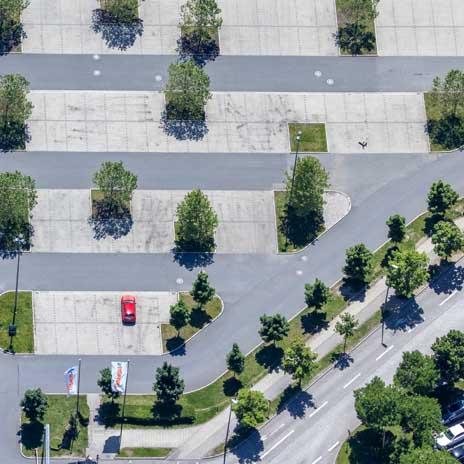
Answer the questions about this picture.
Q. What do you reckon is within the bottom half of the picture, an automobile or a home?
automobile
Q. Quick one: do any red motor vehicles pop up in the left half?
Yes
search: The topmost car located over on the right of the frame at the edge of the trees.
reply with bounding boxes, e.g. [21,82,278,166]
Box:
[438,403,464,430]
